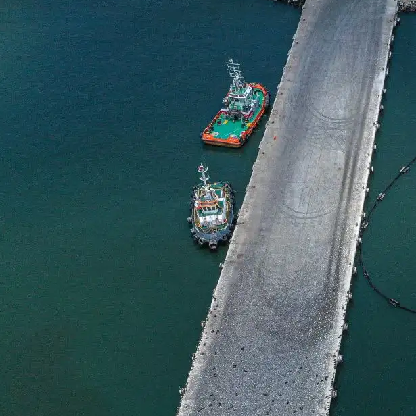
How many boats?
two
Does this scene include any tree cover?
No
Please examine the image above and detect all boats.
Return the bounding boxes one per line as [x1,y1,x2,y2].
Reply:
[202,59,271,150]
[189,169,238,253]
